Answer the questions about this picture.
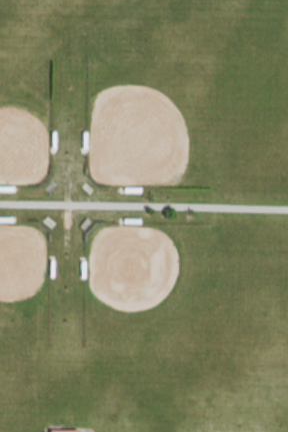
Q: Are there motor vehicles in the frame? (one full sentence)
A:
No, I can't see a single motor vehicle in this photo.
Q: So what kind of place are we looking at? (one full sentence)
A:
What you see here is a sports ground.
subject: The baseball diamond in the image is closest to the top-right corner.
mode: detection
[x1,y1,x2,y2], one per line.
[86,66,209,188]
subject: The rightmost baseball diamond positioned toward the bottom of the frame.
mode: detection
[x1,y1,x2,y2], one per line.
[86,224,208,346]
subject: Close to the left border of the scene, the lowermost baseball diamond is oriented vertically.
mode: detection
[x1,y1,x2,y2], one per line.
[0,222,51,345]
